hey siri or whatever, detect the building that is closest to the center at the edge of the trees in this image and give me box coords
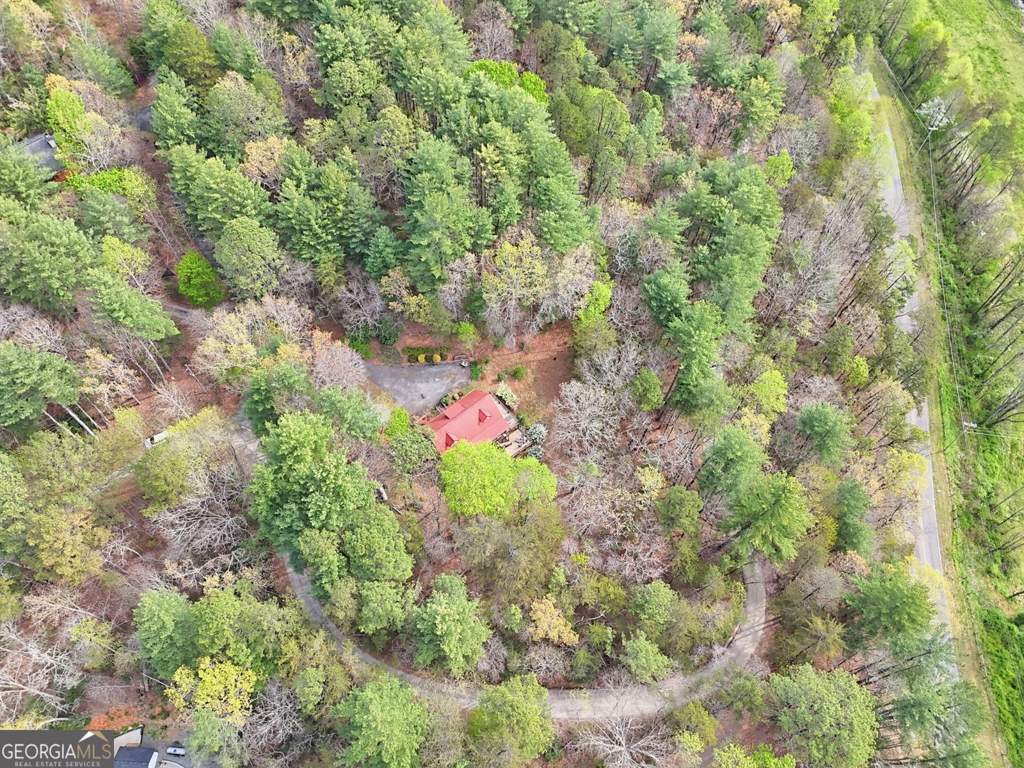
[424,388,534,459]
